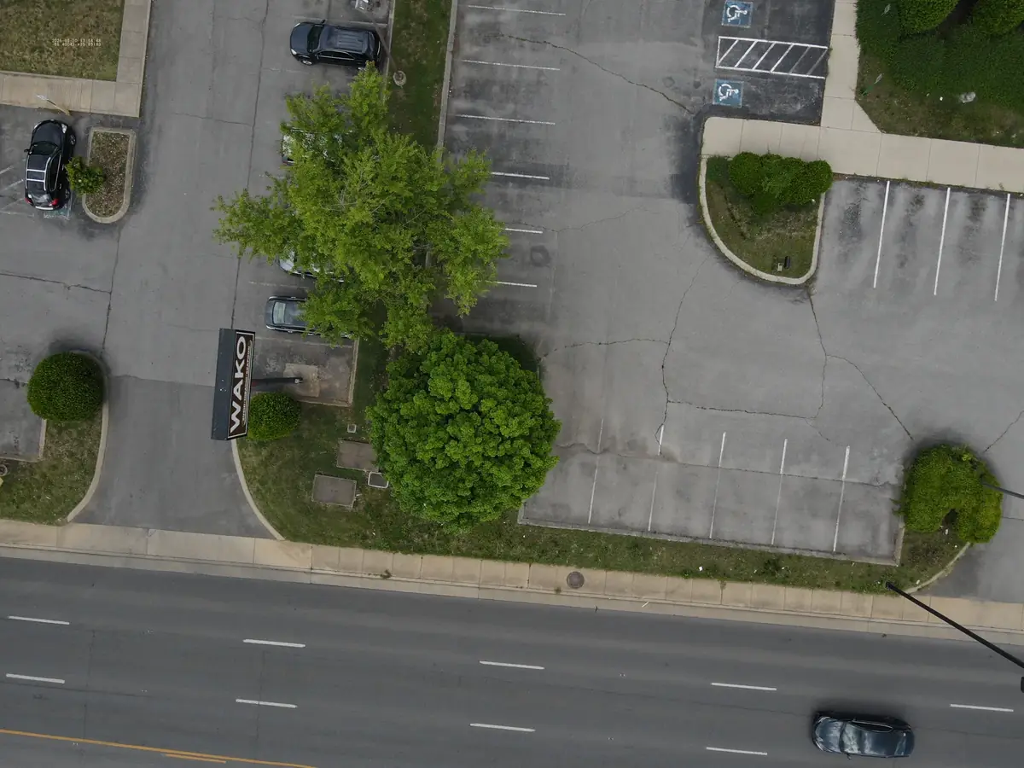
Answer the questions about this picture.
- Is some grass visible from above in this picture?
Yes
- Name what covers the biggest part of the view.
paved ground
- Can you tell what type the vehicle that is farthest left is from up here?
car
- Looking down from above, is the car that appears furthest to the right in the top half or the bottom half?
bottom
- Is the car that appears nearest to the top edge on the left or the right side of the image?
left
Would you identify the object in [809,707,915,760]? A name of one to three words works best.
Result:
car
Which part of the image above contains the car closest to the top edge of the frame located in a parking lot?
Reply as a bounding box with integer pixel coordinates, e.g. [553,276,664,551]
[290,19,384,71]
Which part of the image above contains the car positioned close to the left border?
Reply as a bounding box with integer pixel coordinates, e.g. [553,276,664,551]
[22,119,79,213]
